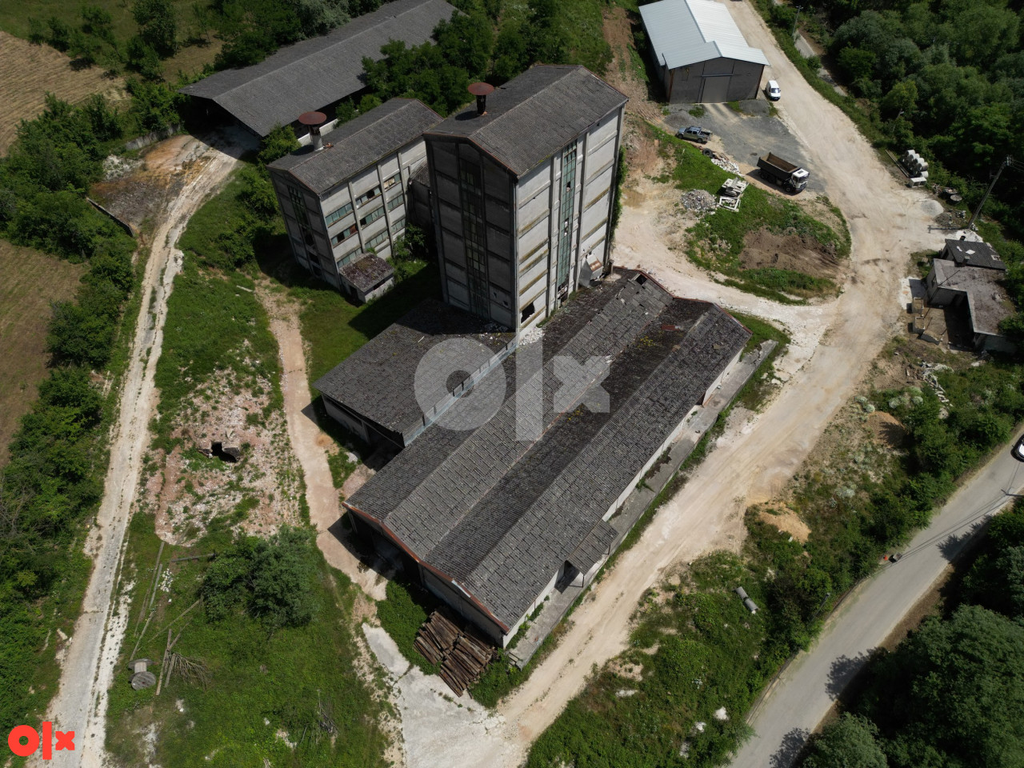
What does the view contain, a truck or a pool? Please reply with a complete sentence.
The one in the frame is a truck.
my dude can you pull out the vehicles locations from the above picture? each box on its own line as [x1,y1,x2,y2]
[766,80,782,98]
[678,126,710,142]
[1016,435,1024,458]
[760,151,813,195]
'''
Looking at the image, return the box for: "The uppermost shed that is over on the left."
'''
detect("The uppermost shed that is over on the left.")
[176,0,484,159]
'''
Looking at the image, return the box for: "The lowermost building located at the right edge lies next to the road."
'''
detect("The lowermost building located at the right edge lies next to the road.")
[925,258,1024,352]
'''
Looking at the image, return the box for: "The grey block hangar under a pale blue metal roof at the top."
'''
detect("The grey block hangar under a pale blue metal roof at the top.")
[640,0,771,101]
